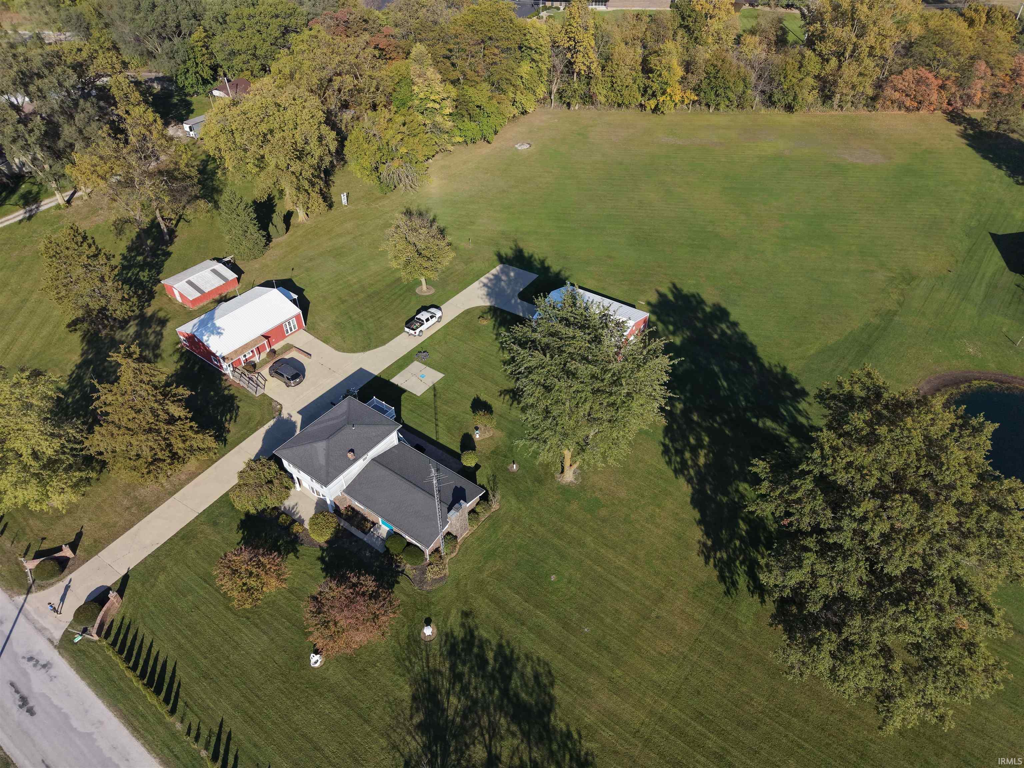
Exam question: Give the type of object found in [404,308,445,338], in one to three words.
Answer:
truck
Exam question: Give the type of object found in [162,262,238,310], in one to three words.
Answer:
shed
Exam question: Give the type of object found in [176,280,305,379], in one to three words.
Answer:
building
